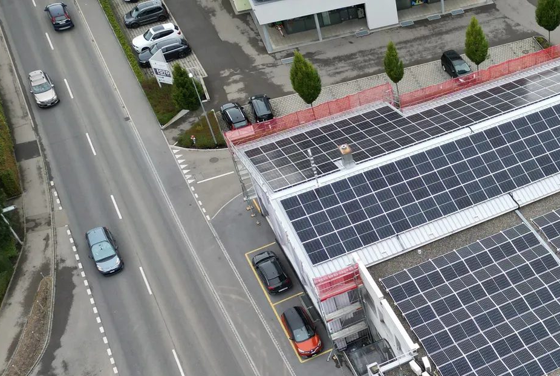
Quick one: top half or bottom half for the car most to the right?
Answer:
top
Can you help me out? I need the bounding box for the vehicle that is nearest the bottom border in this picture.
[279,304,322,358]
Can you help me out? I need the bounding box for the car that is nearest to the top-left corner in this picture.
[46,6,75,33]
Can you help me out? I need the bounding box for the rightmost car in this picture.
[433,45,470,76]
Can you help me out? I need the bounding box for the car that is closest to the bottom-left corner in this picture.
[85,230,122,277]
